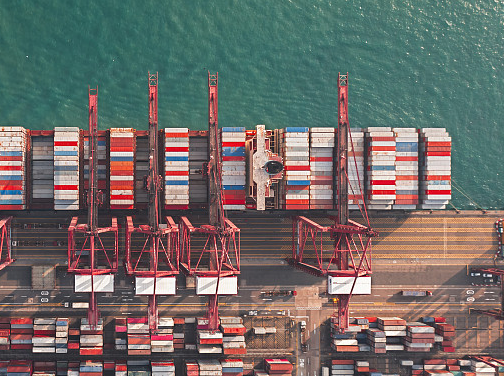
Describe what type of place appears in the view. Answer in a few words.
port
